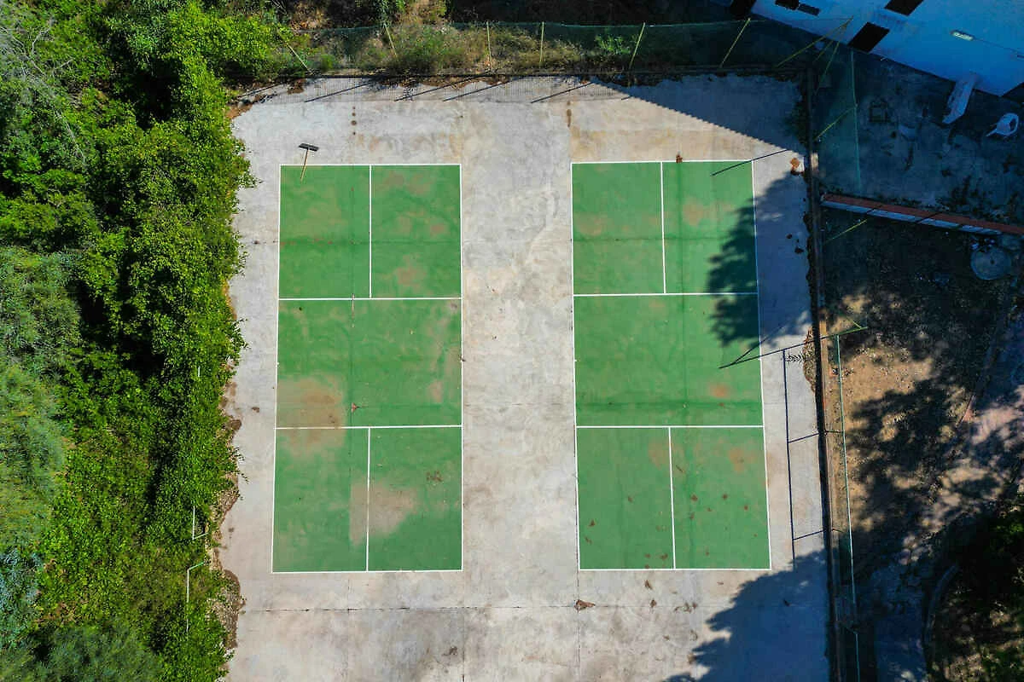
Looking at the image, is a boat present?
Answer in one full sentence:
No, there isn't any boat down there.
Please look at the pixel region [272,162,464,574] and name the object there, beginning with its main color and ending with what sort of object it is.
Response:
green sports court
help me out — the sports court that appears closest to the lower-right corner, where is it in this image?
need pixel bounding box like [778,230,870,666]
[571,159,771,571]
